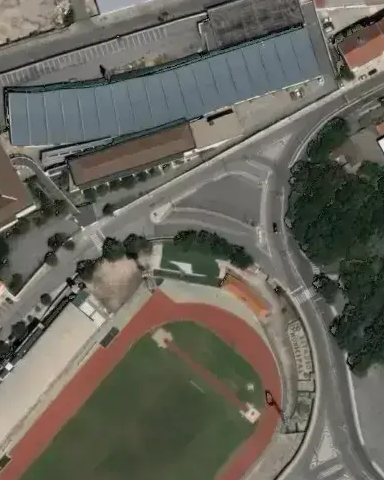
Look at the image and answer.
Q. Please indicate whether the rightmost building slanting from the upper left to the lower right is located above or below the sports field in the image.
above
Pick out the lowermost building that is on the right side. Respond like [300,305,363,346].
[223,275,268,317]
